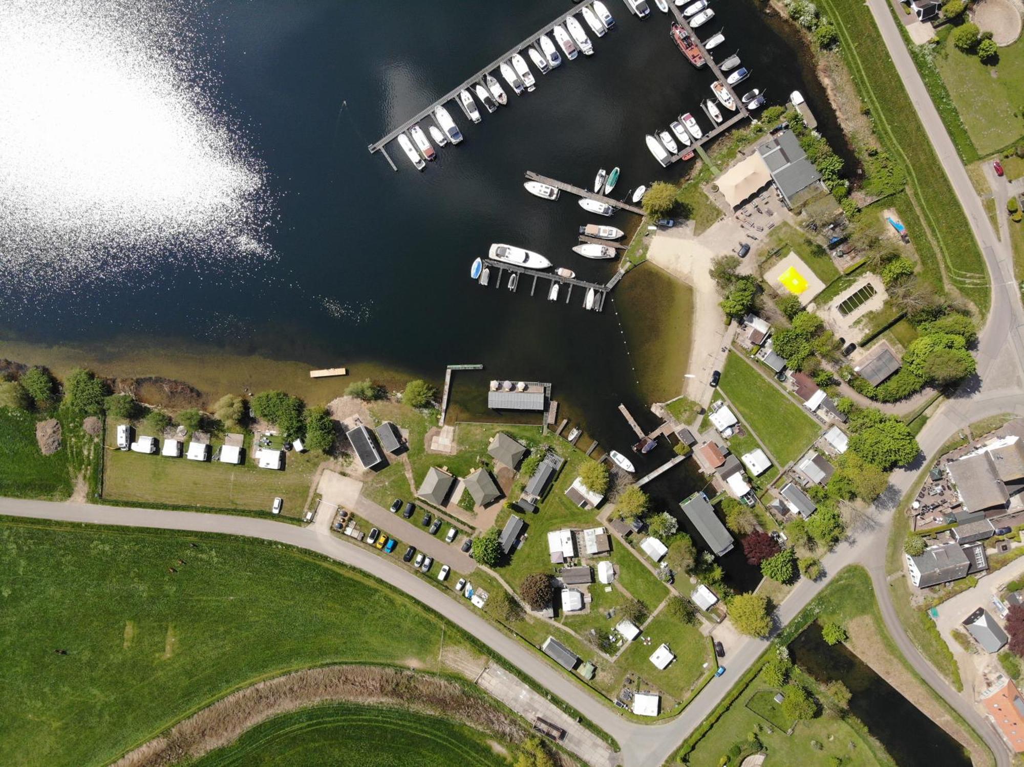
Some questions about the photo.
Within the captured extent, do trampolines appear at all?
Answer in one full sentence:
Yes, there's a trampoline down there.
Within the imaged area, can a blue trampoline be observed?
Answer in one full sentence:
No, there appears to be no blue trampoline in this shot.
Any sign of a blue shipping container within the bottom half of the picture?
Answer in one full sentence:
No, no blue shipping container appears within the bottom half of the picture.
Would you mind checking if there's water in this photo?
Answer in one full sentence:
Yes, there is water in the image.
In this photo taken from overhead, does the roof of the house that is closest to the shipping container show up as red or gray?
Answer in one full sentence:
The roof of the house that is closest to the shipping container looks gray in the image.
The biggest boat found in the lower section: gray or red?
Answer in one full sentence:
The biggest boat found in the lower section looks gray in the image.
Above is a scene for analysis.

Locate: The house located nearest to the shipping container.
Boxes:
[542,635,578,671]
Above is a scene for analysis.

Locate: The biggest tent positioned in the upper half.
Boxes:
[714,152,772,210]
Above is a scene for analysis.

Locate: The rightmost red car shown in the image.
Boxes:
[991,160,1004,176]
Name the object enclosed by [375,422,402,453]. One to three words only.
building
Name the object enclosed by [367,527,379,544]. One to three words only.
vehicle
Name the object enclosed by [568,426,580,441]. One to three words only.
boat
